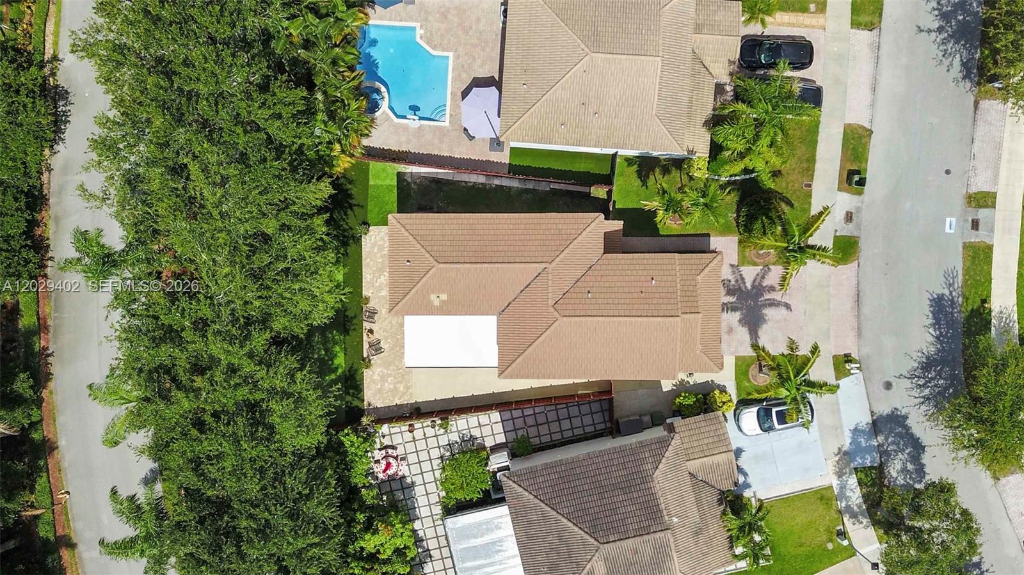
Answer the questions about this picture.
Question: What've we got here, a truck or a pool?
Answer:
pool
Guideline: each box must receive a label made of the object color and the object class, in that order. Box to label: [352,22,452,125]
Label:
blue swimming pool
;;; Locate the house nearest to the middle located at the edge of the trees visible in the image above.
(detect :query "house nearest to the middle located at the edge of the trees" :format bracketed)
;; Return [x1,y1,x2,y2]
[386,211,724,381]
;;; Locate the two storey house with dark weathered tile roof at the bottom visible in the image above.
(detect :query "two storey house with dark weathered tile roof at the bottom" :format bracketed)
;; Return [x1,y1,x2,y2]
[501,411,740,575]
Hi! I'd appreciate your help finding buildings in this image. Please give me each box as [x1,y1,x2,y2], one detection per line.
[501,411,740,575]
[386,211,724,381]
[499,0,740,160]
